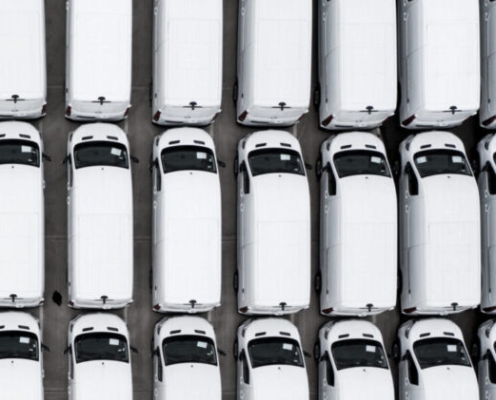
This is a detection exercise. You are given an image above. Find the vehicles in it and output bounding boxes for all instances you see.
[0,0,47,121]
[233,0,310,128]
[469,133,496,316]
[0,121,51,309]
[62,312,139,400]
[471,0,496,130]
[314,131,398,318]
[148,127,226,314]
[149,0,221,128]
[65,0,132,124]
[0,311,50,400]
[313,319,395,400]
[469,318,496,400]
[392,318,477,400]
[233,316,312,400]
[150,315,226,400]
[392,130,479,318]
[61,123,139,310]
[393,0,478,131]
[233,130,313,316]
[313,0,395,131]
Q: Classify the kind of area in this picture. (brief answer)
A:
parking lot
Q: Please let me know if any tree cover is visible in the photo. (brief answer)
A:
No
